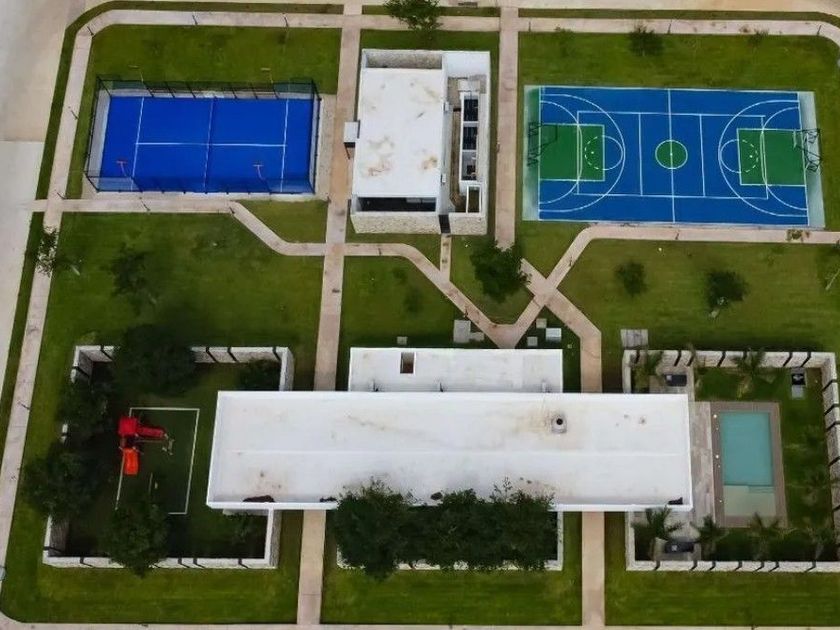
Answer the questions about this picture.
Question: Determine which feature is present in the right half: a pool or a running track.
pool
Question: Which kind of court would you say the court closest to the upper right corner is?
basketball court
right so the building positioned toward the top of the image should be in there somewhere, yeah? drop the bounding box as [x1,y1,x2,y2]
[350,49,491,234]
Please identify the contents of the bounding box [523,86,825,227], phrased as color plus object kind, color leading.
blue basketball court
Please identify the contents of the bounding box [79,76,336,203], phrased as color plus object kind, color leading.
blue sports court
